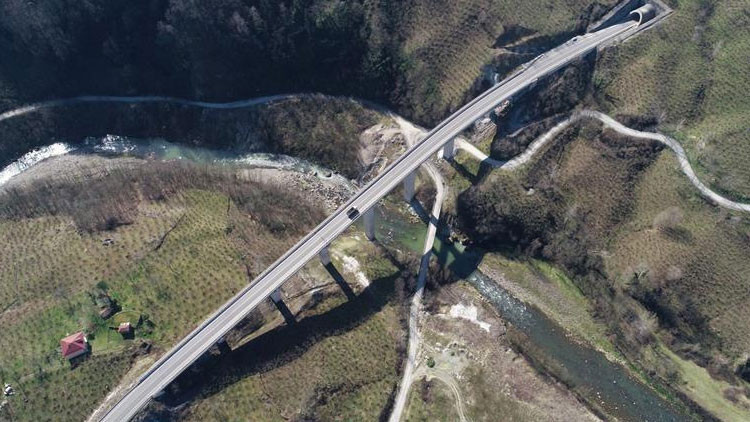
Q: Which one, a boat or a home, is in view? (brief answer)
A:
home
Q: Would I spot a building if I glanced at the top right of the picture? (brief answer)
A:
No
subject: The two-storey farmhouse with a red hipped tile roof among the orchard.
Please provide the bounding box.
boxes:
[54,331,83,359]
